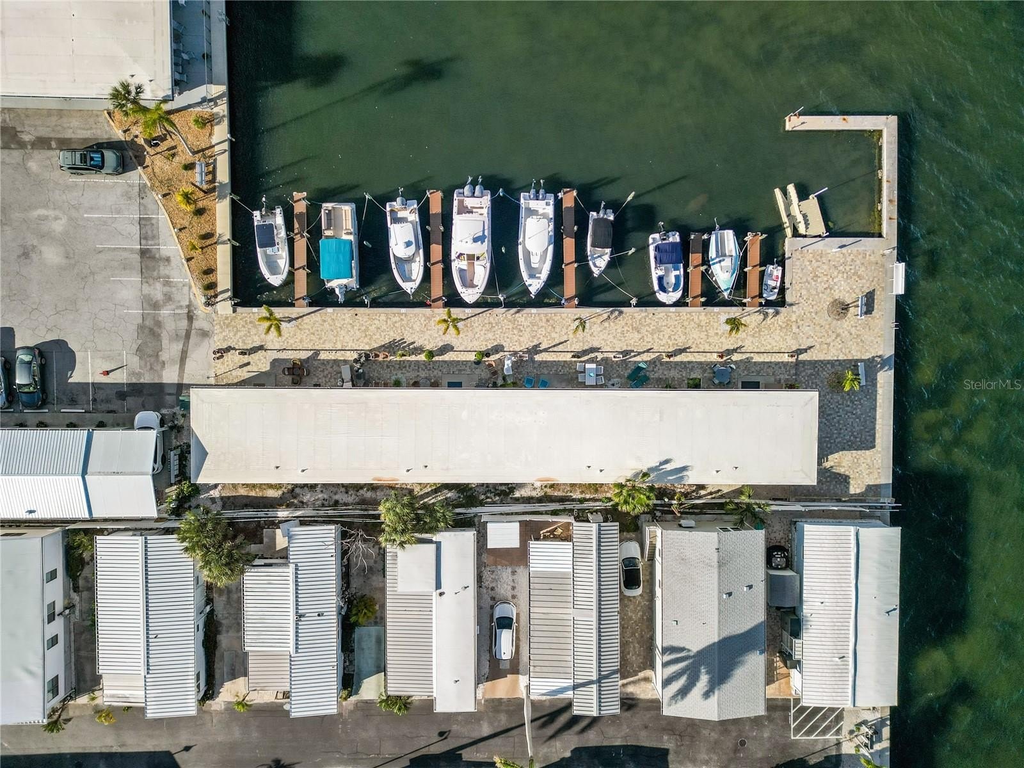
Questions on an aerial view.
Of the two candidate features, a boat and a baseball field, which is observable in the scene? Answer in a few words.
boat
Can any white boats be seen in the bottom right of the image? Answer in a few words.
No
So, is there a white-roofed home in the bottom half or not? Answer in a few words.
Yes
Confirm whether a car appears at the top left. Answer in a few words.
Yes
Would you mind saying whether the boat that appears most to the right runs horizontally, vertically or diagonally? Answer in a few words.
vertically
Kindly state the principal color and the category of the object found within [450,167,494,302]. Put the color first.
white boat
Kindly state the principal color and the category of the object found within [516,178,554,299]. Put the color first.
white boat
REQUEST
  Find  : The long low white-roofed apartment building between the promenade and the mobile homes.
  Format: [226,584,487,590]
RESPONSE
[191,388,818,484]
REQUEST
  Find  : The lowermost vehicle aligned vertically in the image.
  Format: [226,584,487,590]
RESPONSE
[490,600,519,660]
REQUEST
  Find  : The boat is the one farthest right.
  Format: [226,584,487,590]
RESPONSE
[761,256,781,301]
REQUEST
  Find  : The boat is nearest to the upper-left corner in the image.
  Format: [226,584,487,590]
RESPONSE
[253,196,292,286]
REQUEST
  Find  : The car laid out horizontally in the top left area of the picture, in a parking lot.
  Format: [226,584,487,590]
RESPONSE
[59,146,125,177]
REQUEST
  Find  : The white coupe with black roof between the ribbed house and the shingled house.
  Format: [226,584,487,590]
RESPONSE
[621,539,645,597]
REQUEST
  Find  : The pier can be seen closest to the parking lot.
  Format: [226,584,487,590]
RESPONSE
[293,192,308,307]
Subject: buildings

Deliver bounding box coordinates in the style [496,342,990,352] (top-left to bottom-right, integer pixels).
[778,520,902,708]
[487,519,520,549]
[642,523,767,719]
[191,388,818,484]
[94,532,211,718]
[0,533,67,725]
[243,523,346,715]
[0,428,177,520]
[528,521,621,717]
[386,526,481,711]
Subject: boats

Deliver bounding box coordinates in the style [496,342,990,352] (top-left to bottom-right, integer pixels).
[319,203,357,304]
[253,196,292,286]
[709,222,740,299]
[585,201,613,278]
[761,256,781,301]
[648,218,684,304]
[516,178,554,299]
[386,183,425,297]
[450,167,494,302]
